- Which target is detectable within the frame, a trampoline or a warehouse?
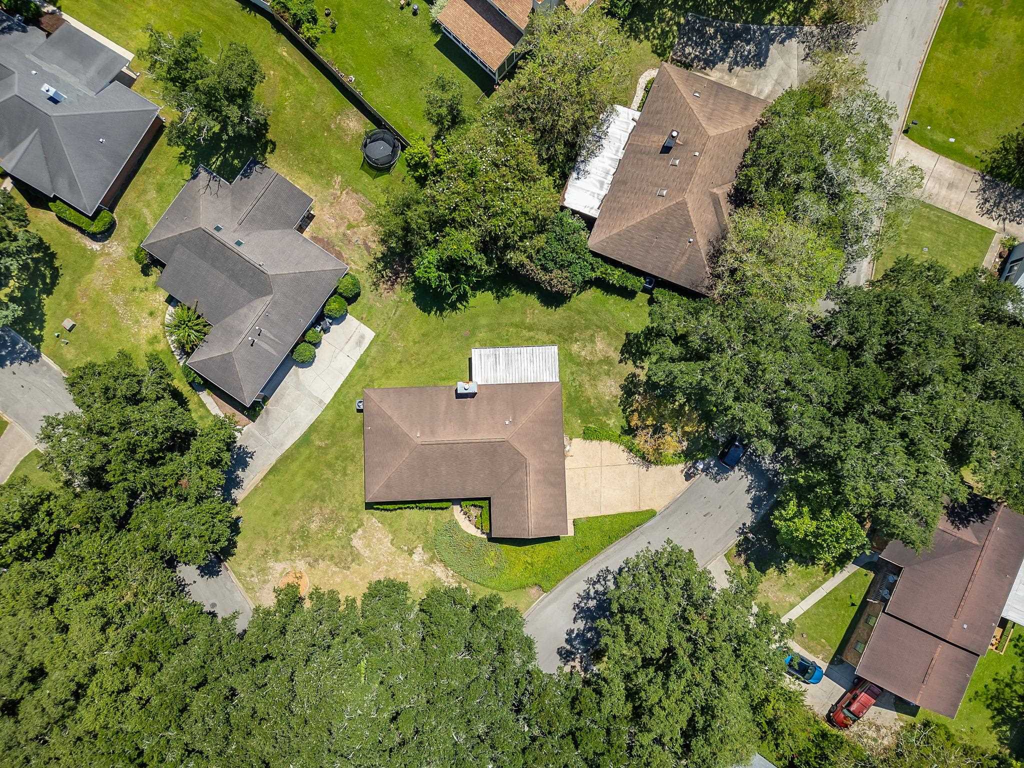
trampoline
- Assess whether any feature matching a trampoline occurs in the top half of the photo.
Yes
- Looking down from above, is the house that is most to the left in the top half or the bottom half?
top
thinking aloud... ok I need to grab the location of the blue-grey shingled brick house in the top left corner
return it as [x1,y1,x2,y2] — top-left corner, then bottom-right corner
[0,11,167,217]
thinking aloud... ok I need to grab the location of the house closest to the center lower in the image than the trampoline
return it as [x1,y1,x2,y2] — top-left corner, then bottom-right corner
[362,381,569,539]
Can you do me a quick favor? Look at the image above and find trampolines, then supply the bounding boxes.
[357,118,400,168]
